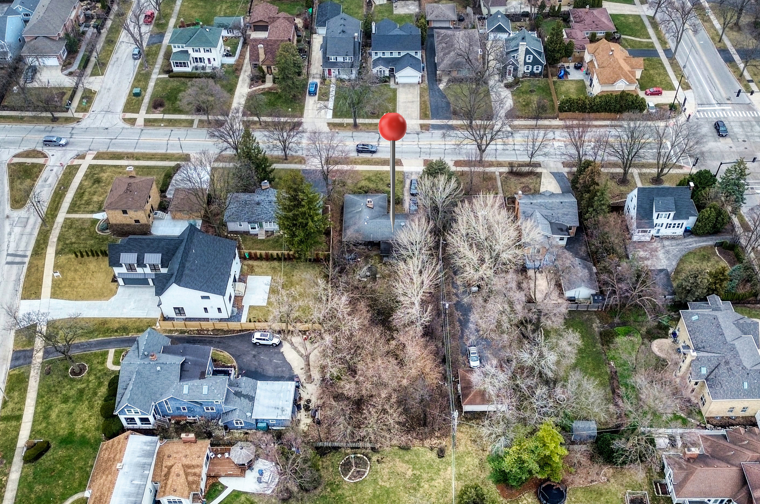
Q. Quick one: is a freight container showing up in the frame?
No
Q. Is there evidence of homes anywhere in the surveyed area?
Yes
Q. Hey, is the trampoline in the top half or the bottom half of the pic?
bottom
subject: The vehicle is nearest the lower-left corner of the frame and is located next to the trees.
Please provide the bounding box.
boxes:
[249,330,281,347]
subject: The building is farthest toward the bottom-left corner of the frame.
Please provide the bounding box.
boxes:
[85,418,214,504]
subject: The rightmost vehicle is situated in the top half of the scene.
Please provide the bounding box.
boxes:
[712,118,730,137]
